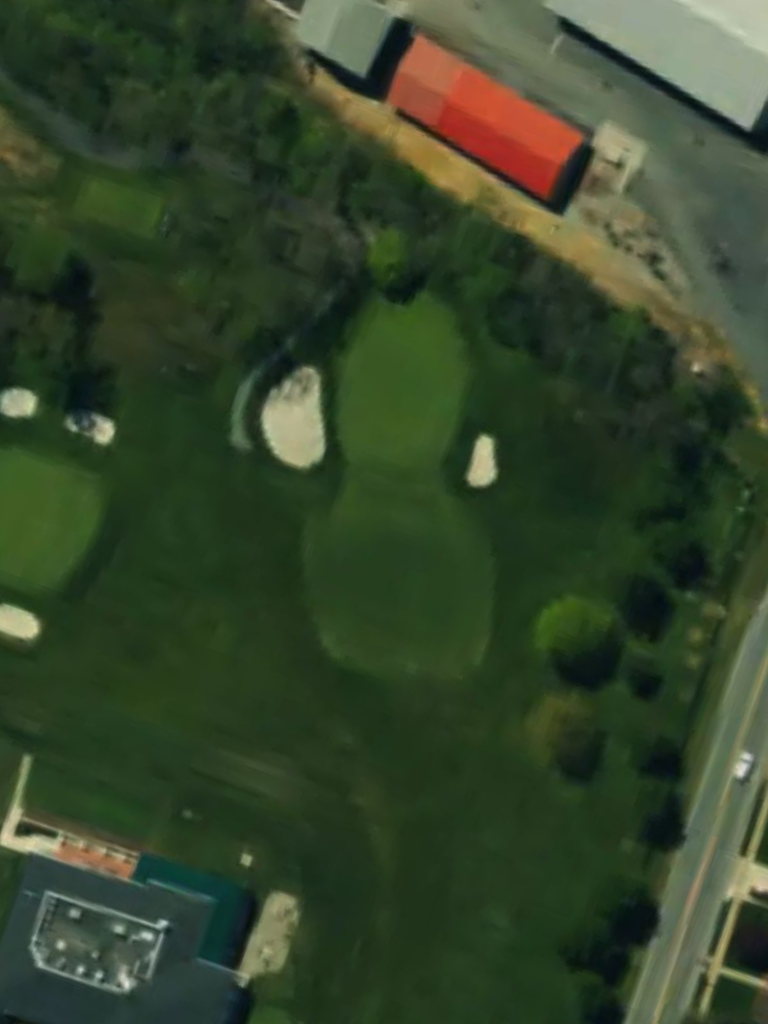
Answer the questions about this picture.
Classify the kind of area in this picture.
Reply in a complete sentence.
This image shows a golf course.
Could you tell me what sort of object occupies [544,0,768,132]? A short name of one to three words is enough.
warehouse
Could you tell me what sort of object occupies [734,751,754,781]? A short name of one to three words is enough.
car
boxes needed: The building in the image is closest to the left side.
[0,854,248,1024]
